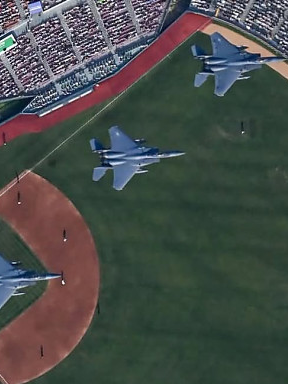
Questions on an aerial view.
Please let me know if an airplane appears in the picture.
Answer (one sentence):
Yes, the picture does show an airplane.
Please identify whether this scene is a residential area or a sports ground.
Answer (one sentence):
What you see here is a sports ground.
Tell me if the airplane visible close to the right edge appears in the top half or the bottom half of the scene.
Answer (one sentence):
It is in the top half that the airplane visible close to the right edge appears.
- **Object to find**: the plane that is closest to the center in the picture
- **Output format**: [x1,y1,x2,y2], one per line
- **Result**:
[90,125,185,189]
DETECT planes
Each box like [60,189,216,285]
[191,31,286,96]
[0,255,62,307]
[90,125,185,189]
